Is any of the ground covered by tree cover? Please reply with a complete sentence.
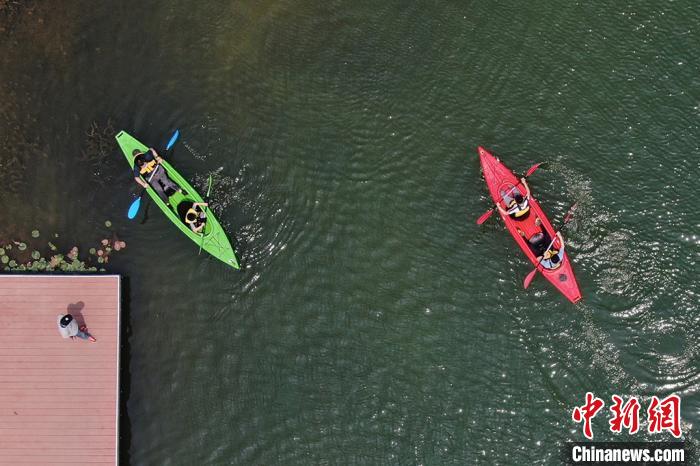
No, there's no tree cover in this view.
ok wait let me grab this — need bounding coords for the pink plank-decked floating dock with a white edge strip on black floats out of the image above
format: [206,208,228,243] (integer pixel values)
[0,273,131,466]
